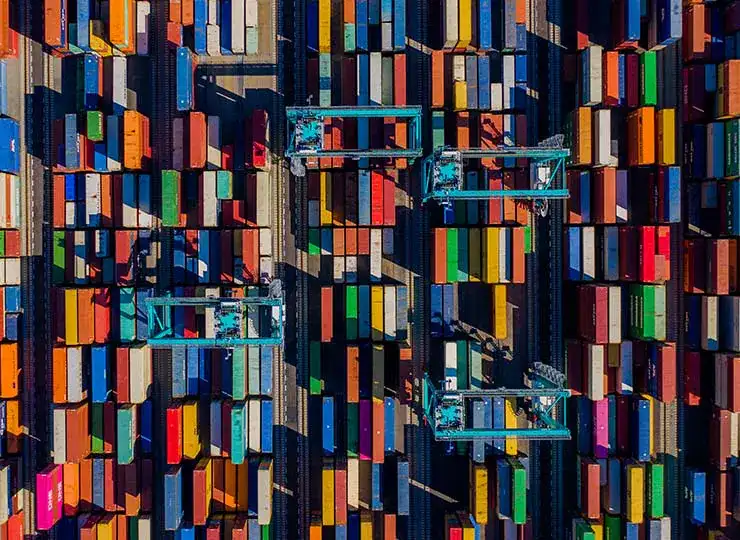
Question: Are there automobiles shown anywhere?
No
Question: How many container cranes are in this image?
four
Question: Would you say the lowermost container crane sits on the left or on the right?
right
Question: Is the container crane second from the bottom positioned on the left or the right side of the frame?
left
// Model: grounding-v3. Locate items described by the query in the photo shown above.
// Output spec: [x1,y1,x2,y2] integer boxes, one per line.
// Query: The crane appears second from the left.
[286,103,423,184]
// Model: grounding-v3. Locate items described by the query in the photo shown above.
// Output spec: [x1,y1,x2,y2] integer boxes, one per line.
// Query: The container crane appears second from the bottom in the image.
[145,278,285,353]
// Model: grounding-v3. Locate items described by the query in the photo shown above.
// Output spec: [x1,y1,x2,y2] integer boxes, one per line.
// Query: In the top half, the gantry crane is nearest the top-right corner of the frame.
[423,134,570,218]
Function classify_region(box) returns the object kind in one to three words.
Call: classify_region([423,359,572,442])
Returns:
container crane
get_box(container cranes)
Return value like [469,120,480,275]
[423,134,570,218]
[145,278,285,353]
[286,103,423,184]
[423,359,572,442]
